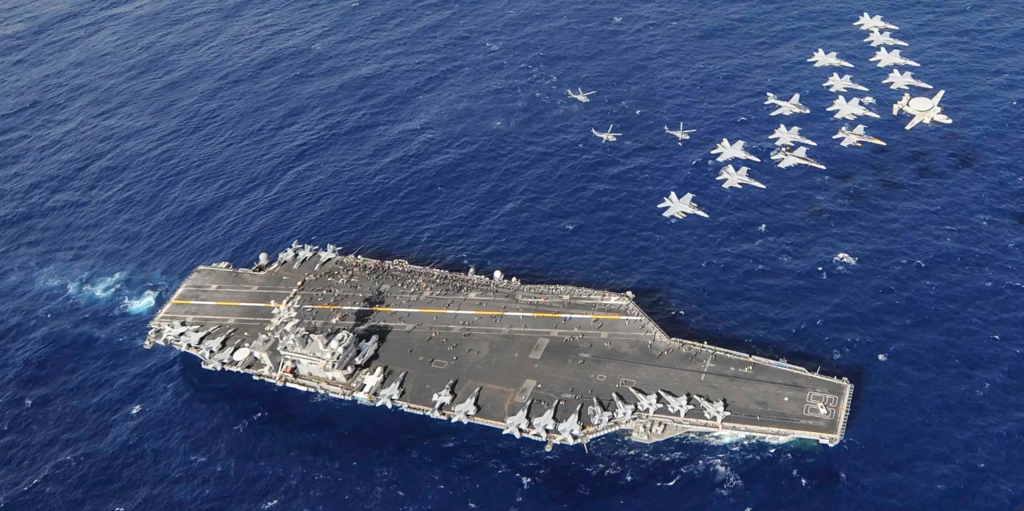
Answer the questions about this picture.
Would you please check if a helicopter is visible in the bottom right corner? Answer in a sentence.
No, no helicopter is visible in the bottom right corner.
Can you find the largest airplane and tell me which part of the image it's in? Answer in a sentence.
The largest airplane is located in the top right region of the scene.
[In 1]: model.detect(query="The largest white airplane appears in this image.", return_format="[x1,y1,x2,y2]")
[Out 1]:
[892,87,955,133]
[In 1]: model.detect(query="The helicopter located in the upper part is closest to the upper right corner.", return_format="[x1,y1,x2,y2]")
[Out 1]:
[662,121,694,143]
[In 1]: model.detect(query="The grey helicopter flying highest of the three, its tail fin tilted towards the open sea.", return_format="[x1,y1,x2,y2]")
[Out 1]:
[569,84,598,103]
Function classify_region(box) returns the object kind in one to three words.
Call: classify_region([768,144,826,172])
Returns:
airplane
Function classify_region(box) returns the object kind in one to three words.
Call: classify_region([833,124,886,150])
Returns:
airplane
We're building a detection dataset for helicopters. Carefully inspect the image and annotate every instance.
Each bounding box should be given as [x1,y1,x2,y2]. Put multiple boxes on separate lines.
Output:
[569,84,598,103]
[593,122,624,144]
[662,121,694,143]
